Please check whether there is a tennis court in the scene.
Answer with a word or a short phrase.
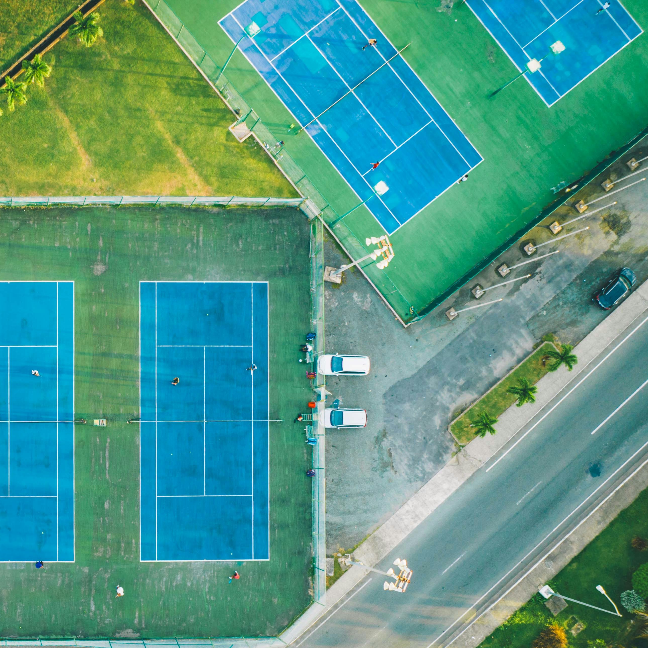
Yes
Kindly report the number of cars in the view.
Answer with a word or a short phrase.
3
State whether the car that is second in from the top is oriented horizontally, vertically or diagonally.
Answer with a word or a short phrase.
horizontally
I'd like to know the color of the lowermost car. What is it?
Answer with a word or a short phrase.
white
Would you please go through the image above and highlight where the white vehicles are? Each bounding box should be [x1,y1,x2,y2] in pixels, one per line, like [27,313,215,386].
[317,405,369,432]
[315,351,370,378]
